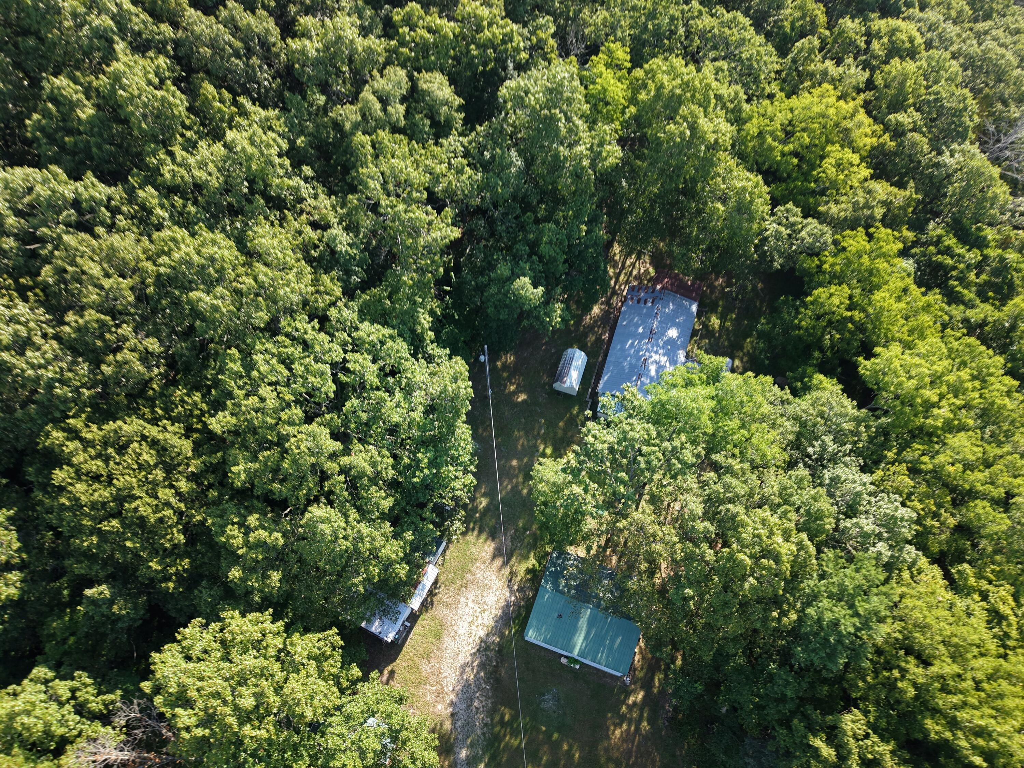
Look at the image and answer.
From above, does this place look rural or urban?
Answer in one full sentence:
The area is rural.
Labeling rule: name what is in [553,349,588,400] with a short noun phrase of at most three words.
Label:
shed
